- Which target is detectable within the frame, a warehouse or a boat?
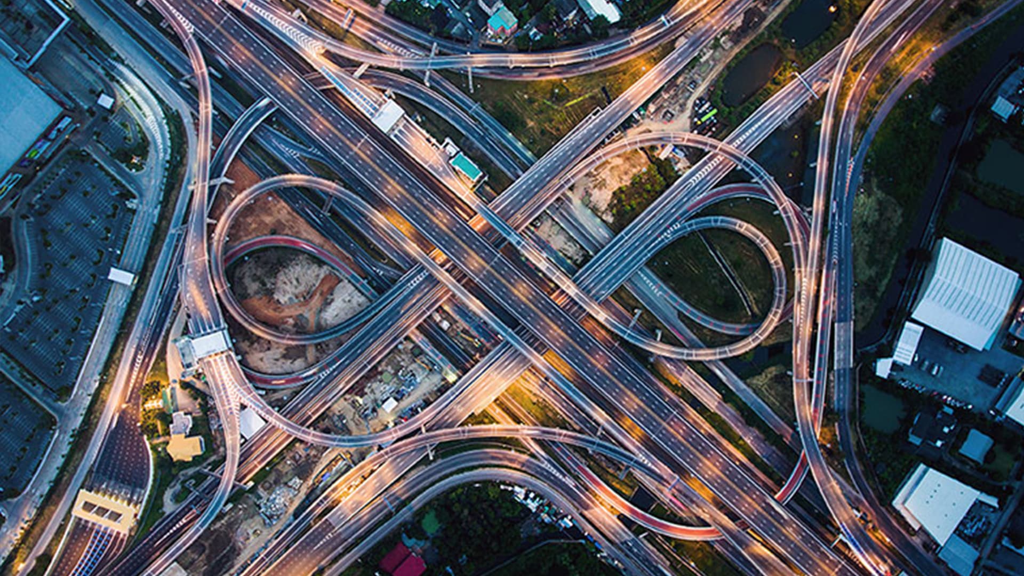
warehouse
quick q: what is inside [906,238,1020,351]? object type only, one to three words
warehouse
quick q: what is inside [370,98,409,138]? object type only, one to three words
toll station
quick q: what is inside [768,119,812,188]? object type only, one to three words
pond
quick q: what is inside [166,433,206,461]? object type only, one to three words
house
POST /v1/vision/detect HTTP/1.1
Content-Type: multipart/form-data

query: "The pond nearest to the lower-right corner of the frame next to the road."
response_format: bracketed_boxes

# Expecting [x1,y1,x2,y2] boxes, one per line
[863,386,906,432]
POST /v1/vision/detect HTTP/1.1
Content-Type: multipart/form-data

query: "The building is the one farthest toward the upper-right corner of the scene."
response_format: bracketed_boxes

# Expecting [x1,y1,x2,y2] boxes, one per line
[994,68,1024,103]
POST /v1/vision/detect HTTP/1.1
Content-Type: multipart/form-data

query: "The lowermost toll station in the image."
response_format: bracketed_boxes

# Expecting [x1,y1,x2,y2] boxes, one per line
[71,481,142,535]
